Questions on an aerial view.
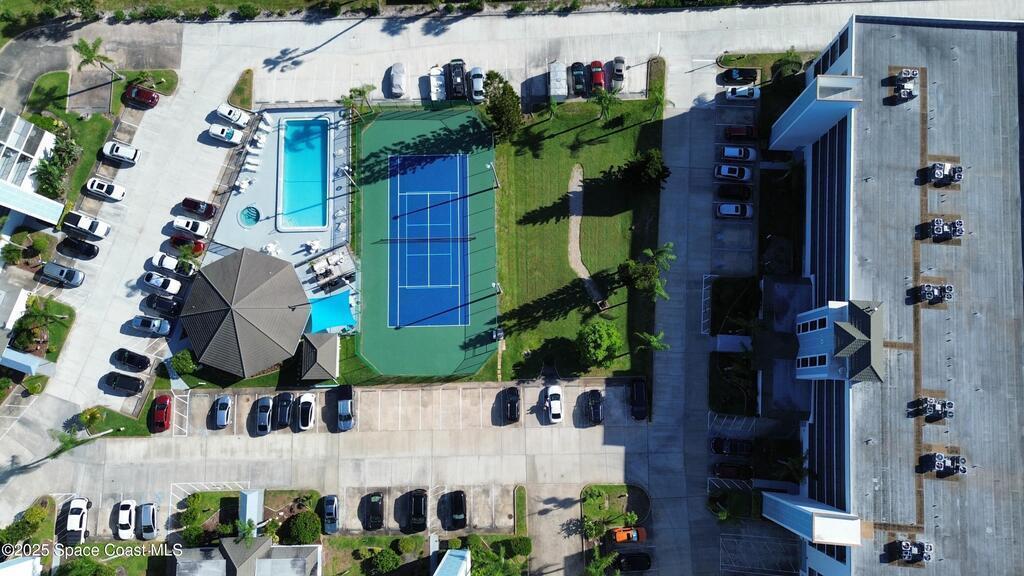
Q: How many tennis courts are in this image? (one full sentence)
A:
Just 1 tennis court appears in this view.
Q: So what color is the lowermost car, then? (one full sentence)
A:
The lowermost car is black.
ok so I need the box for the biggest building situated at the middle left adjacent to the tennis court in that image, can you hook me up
[180,248,312,379]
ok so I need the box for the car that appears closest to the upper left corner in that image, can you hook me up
[127,86,160,106]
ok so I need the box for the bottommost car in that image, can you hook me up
[617,552,652,572]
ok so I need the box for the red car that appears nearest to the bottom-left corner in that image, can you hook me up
[153,395,173,431]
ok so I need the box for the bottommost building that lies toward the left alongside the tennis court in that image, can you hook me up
[301,333,340,380]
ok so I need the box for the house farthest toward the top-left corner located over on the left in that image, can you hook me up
[0,106,64,178]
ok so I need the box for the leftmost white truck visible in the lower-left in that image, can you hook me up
[65,498,91,544]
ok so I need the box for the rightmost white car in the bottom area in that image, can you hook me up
[547,386,564,423]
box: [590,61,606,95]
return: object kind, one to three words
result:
car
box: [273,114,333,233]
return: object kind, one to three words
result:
swimming pool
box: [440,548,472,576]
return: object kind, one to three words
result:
shed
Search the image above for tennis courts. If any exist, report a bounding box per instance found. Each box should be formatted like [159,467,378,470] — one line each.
[361,109,497,374]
